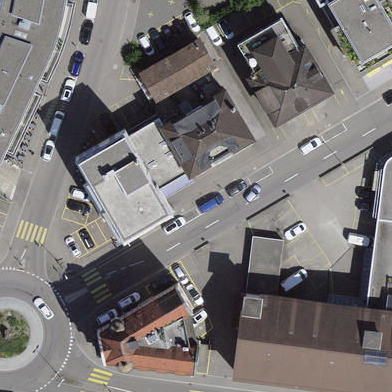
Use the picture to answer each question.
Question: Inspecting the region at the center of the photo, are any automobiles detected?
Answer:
Yes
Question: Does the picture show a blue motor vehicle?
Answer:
Yes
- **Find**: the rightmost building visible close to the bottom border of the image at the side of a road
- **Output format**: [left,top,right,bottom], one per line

[232,294,392,392]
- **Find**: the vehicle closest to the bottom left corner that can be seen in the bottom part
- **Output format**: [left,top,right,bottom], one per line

[33,296,55,320]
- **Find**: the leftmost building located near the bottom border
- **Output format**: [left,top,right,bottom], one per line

[96,280,200,376]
